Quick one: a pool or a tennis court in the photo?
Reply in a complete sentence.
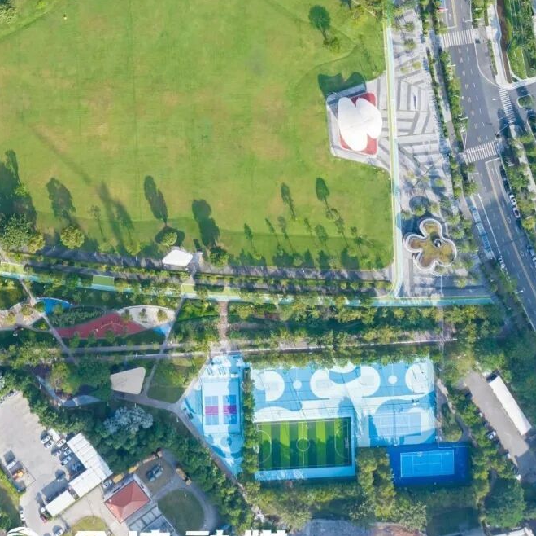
Looking from above, you can make out a tennis court.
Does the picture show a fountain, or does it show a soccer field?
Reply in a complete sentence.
It is a soccer field that can be seen here.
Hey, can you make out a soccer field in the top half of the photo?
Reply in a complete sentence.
No, no soccer field appears in the top half of the photo.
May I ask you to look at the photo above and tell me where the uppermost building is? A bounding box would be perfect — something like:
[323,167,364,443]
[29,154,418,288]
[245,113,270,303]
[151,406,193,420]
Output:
[327,70,391,162]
